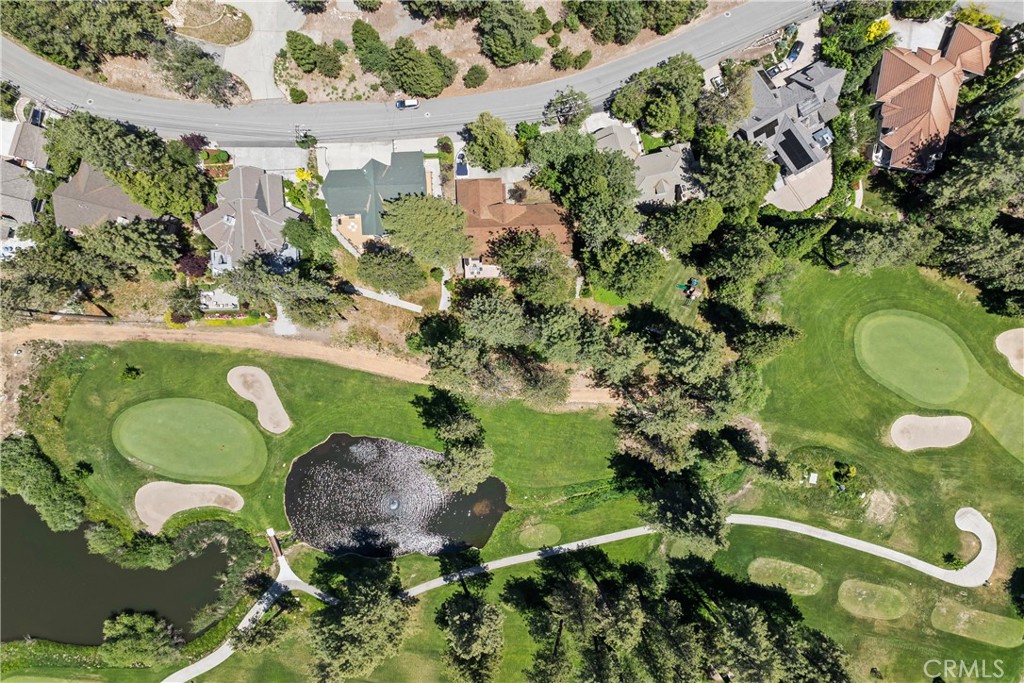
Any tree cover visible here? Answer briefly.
Yes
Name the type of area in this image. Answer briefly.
golf course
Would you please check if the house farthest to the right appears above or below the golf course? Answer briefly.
above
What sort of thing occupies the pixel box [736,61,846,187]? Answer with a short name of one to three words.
house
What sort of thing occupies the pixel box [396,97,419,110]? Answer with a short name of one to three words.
vehicle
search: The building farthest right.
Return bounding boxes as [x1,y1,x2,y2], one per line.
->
[870,22,999,179]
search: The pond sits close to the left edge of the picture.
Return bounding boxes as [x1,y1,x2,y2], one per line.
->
[0,474,227,646]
